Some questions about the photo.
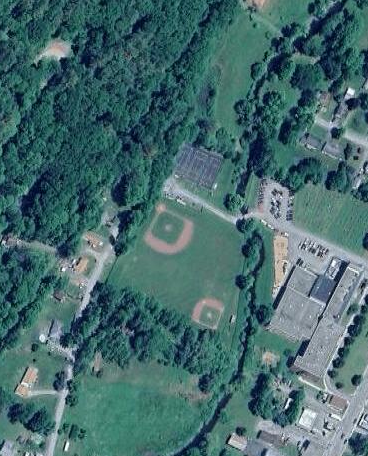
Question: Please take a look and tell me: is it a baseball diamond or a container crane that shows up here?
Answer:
baseball diamond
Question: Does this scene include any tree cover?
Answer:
Yes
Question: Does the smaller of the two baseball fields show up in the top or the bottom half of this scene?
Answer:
bottom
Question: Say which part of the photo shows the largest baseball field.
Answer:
center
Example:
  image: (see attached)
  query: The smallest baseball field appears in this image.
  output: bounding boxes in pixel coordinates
[190,296,225,337]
